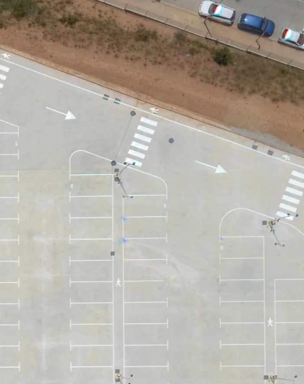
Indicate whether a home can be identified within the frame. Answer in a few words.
No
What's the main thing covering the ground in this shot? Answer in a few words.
paved ground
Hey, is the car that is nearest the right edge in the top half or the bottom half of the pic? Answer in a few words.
top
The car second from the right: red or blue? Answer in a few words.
blue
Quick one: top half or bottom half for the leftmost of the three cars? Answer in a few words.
top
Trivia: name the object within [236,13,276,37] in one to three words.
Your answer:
car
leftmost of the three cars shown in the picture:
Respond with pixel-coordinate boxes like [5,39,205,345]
[198,0,236,25]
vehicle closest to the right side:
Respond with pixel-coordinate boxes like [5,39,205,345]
[277,27,304,50]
